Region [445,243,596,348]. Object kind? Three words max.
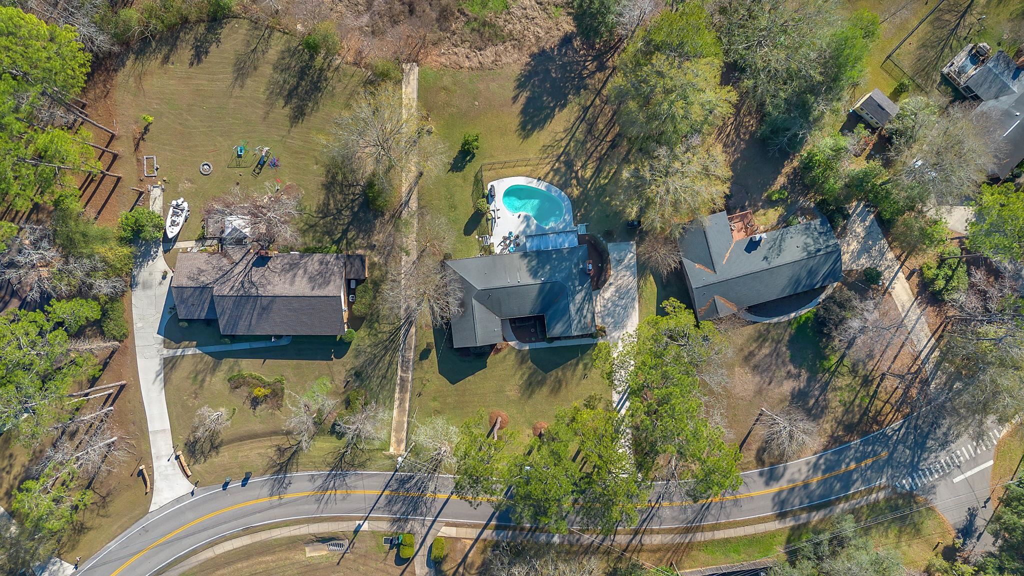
house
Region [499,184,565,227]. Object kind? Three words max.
swimming pool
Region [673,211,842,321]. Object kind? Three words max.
house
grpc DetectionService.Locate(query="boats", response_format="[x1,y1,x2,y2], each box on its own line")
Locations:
[165,197,188,238]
